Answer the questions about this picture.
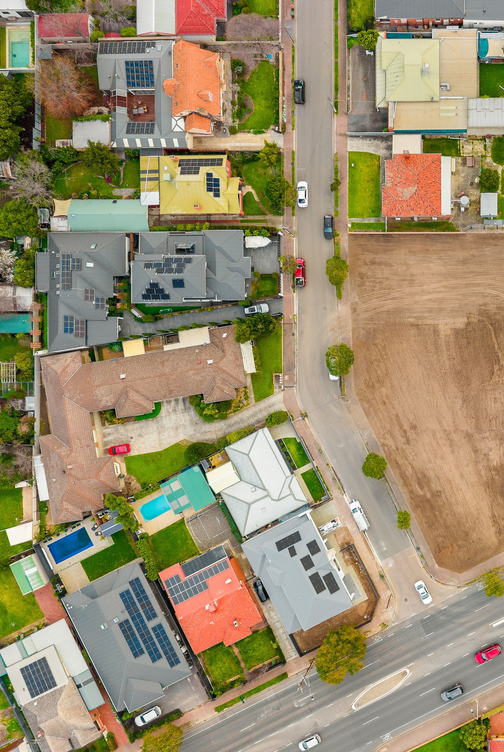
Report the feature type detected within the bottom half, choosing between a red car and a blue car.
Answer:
red car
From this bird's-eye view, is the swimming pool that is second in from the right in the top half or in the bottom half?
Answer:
bottom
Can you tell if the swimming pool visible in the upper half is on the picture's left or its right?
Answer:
left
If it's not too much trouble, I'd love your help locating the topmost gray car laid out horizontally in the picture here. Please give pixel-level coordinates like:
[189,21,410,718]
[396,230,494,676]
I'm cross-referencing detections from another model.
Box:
[243,303,270,316]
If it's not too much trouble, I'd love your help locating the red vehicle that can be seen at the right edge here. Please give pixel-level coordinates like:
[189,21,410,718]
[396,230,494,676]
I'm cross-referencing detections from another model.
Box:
[477,644,500,661]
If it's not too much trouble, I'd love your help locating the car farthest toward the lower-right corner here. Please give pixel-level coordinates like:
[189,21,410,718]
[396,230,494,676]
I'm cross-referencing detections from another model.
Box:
[440,682,466,702]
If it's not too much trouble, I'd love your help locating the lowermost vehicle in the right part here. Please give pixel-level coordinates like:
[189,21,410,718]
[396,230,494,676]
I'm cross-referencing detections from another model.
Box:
[298,732,321,750]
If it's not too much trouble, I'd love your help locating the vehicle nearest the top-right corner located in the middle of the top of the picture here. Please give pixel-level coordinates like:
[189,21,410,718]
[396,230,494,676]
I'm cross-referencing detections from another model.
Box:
[293,79,305,106]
